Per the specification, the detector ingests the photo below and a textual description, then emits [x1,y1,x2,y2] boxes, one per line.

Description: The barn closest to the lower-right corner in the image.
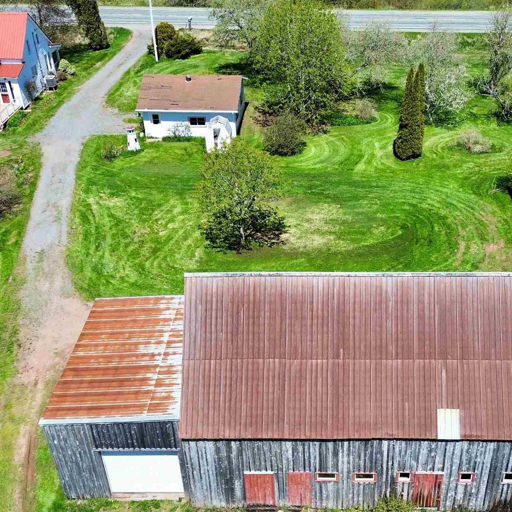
[179,269,512,512]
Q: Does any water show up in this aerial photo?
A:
No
